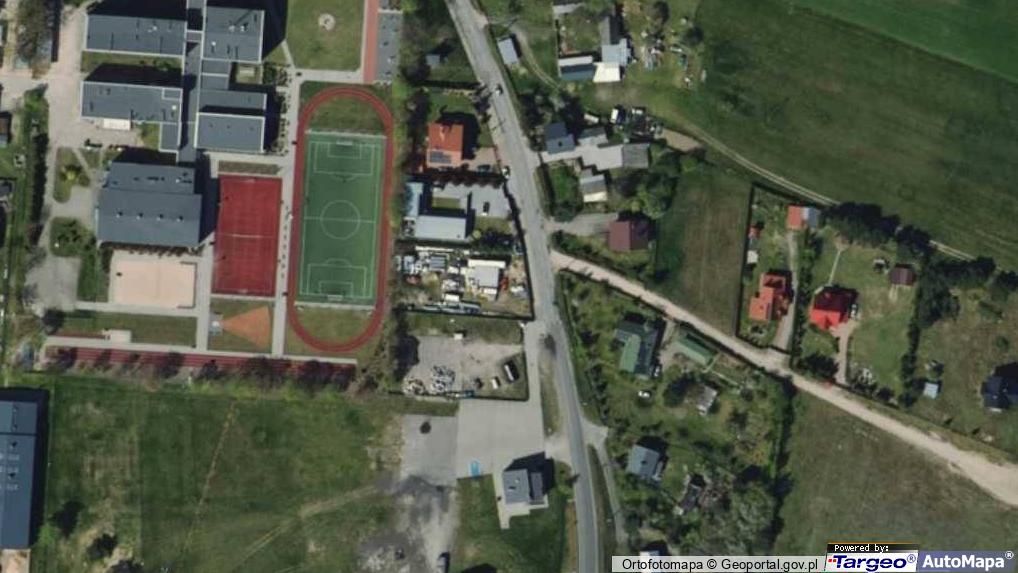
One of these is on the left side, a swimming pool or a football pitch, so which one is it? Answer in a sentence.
What appears on the left side is a football pitch.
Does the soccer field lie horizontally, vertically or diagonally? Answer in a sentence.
In this picture, the soccer field is oriented vertically.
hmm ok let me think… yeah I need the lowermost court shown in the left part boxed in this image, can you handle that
[108,249,203,310]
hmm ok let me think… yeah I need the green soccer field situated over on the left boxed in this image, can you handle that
[294,125,388,310]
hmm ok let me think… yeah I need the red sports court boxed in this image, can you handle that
[212,177,281,296]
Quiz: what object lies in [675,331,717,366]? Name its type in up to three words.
shed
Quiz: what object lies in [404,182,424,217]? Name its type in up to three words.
building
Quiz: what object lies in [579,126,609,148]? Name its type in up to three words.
barn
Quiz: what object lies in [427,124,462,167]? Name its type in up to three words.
house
